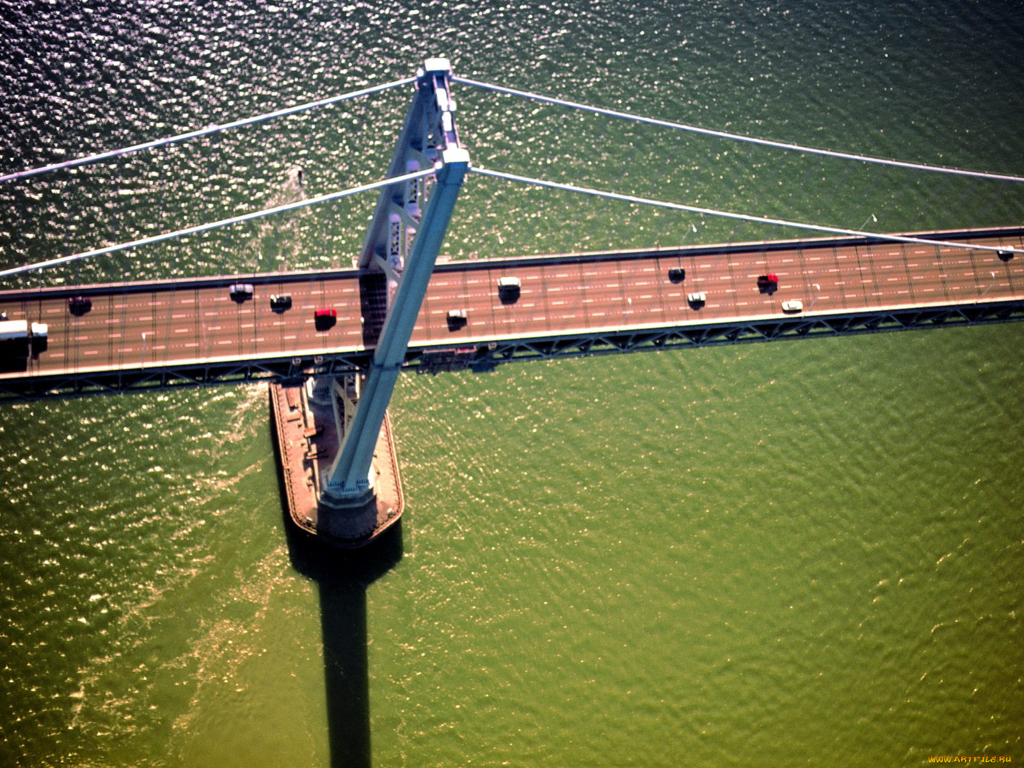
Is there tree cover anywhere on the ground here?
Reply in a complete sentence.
No, the scene doesn't show any tree cover.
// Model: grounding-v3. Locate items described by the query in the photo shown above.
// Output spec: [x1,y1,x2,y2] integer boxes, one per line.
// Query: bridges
[0,61,1024,495]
